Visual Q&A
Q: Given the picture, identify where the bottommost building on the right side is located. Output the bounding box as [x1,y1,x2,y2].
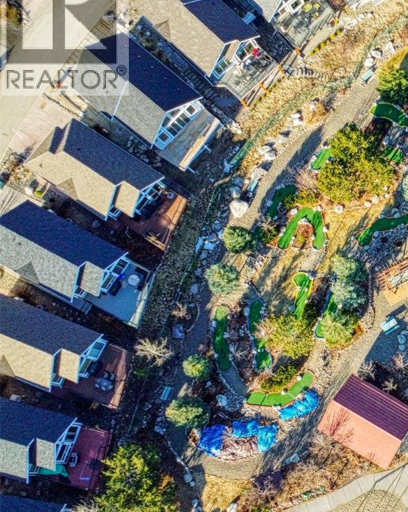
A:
[319,375,408,469]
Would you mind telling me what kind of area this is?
residential area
